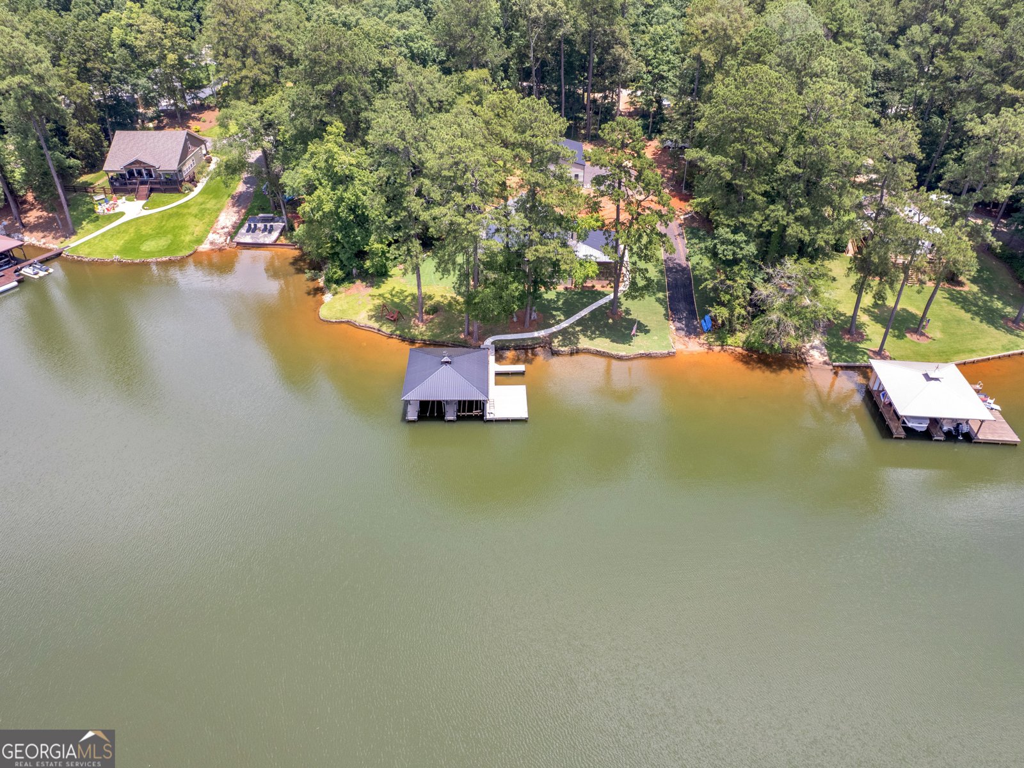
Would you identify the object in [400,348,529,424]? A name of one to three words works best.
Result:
building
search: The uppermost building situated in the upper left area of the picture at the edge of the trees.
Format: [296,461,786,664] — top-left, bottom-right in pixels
[103,130,216,198]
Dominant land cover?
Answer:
water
